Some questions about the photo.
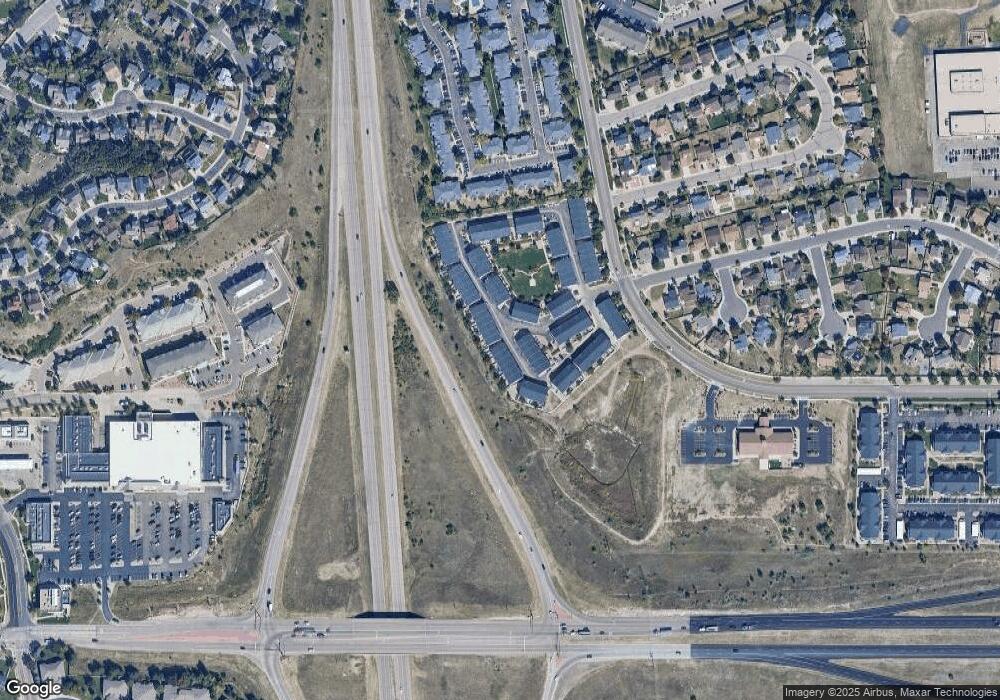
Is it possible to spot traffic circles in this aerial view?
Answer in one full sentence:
No, no traffic circle is visible in the scene.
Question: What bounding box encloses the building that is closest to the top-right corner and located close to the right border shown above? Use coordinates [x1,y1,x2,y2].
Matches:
[937,52,1000,140]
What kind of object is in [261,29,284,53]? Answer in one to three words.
house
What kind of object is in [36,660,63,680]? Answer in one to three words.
house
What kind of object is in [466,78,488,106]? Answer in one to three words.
building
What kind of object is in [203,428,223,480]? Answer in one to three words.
building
